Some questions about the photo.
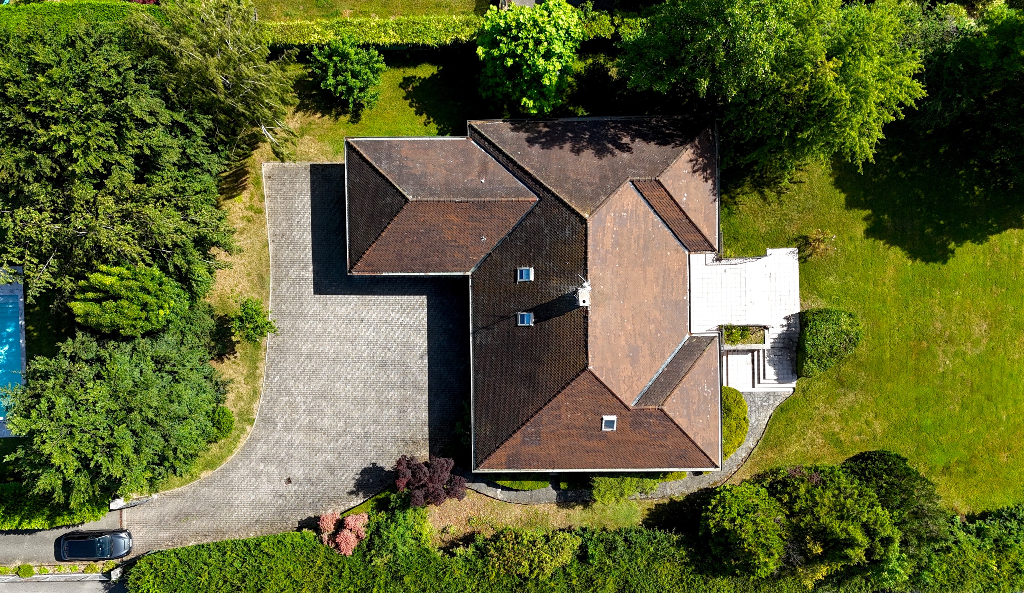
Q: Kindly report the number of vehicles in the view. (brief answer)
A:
1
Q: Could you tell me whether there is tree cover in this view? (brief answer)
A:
Yes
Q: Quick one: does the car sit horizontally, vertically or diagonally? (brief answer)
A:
horizontally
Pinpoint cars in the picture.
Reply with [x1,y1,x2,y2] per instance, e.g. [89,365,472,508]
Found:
[54,526,131,566]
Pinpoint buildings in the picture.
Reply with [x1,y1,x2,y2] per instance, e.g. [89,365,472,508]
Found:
[342,115,725,478]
